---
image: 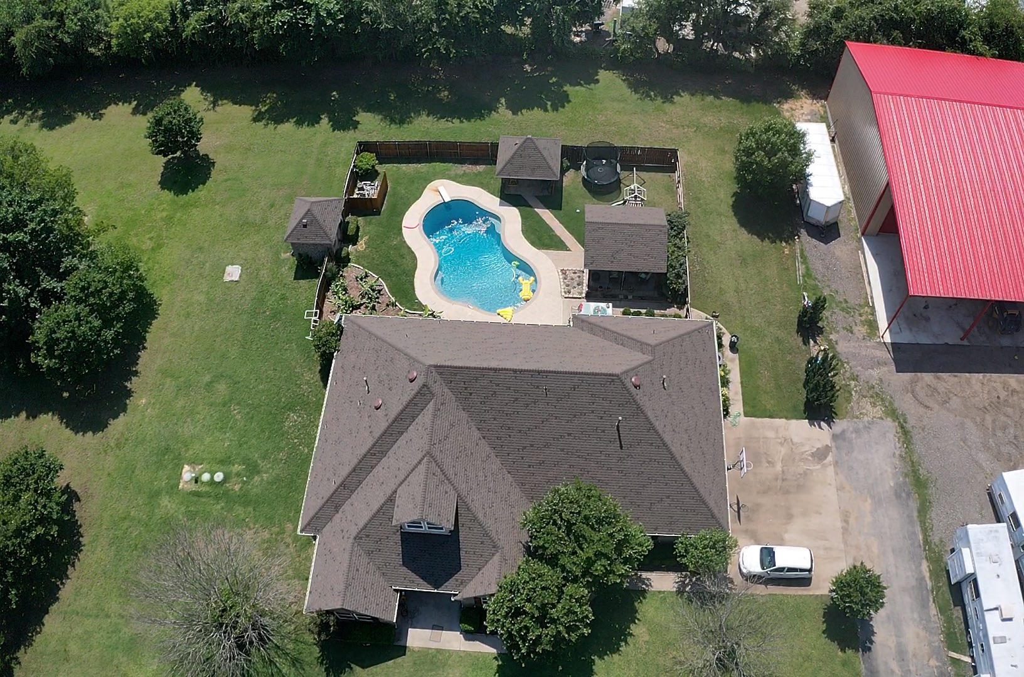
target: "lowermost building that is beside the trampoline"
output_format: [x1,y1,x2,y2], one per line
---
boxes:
[584,203,669,288]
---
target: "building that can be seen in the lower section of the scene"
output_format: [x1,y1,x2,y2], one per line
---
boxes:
[297,313,732,628]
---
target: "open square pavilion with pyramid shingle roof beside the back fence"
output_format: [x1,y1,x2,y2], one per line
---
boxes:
[495,133,561,198]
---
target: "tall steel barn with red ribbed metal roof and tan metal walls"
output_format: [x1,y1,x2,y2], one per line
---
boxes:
[827,40,1024,342]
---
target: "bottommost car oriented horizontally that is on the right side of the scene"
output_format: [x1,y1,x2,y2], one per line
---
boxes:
[740,550,819,588]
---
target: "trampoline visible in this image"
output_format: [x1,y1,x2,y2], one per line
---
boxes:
[582,144,624,196]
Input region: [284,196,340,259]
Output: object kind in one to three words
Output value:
shed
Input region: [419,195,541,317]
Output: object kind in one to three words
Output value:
swimming pool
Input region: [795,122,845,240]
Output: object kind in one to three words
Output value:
trailer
